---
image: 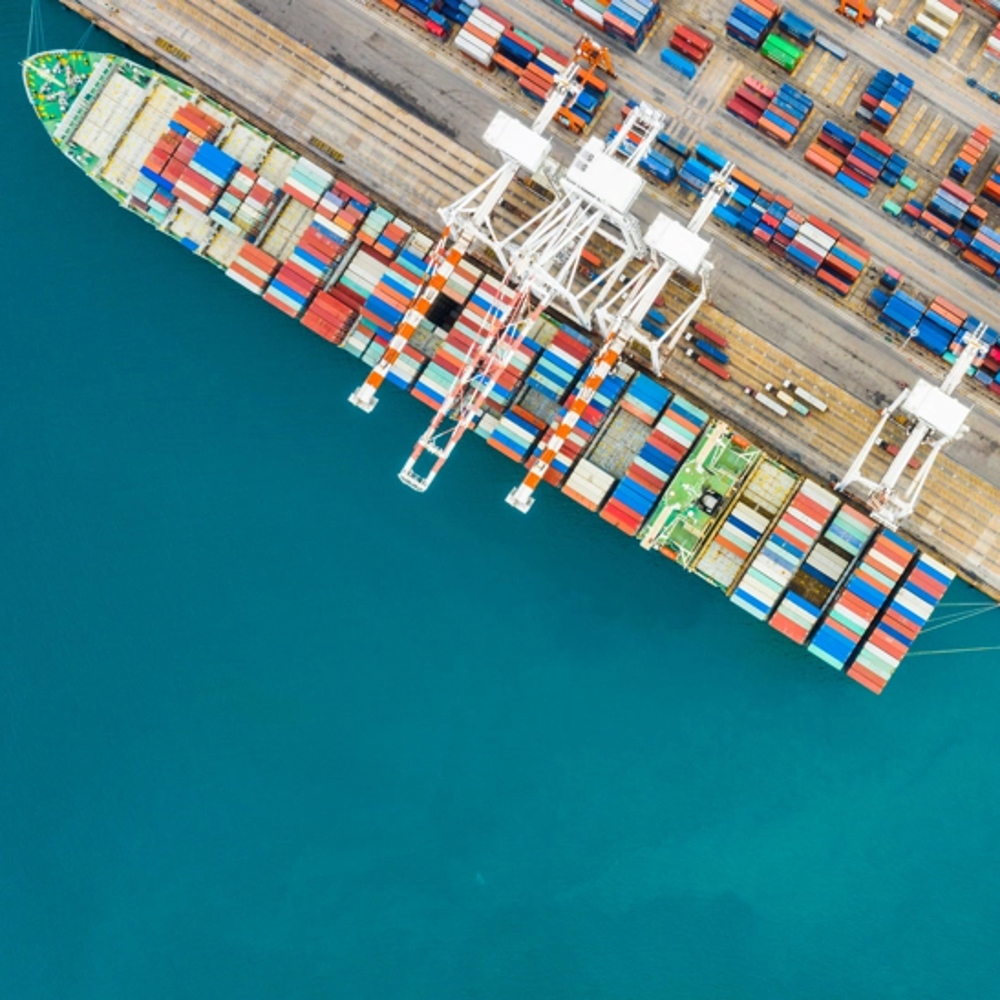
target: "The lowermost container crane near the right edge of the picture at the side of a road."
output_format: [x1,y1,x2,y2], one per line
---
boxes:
[831,324,992,533]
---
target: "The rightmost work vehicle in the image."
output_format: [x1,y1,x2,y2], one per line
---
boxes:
[964,71,1000,104]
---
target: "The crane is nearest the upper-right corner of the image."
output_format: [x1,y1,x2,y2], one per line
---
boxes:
[835,0,872,32]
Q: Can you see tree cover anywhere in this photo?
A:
No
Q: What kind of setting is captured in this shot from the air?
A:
port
